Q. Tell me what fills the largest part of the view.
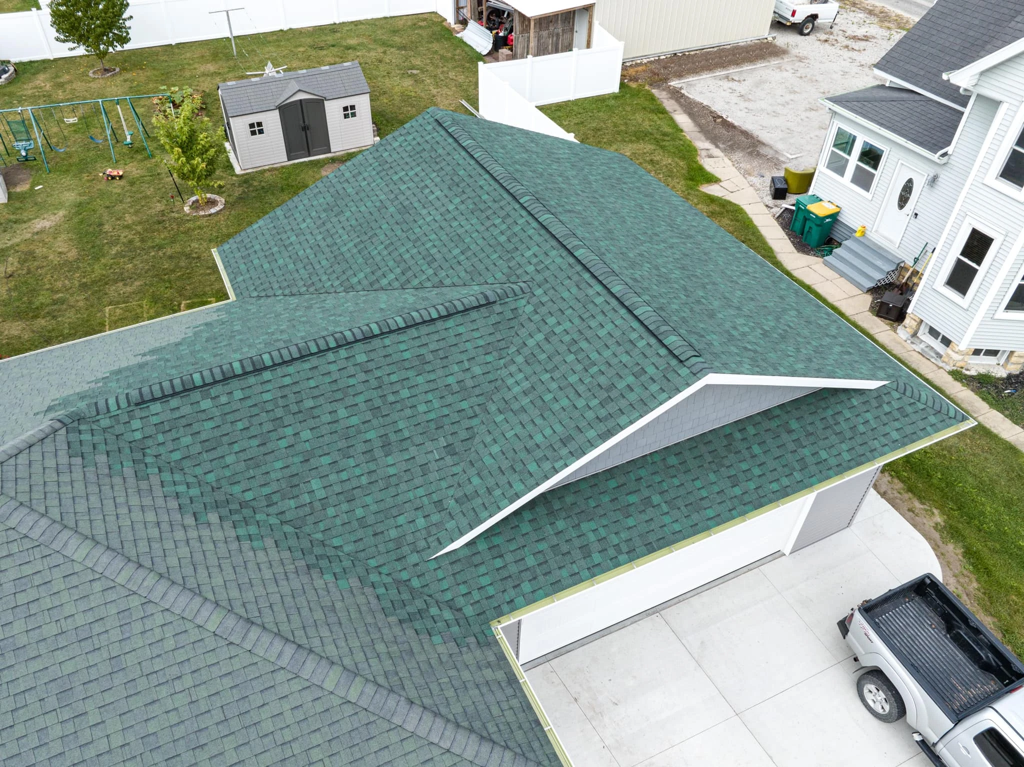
buildings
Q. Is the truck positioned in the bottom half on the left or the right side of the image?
right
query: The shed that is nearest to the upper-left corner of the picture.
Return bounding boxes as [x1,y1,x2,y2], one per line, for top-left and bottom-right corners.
[212,59,374,169]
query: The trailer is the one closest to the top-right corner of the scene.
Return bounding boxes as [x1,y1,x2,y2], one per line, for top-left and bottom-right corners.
[777,0,844,35]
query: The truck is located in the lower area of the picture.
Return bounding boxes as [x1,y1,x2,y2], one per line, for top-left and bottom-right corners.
[834,570,1024,767]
